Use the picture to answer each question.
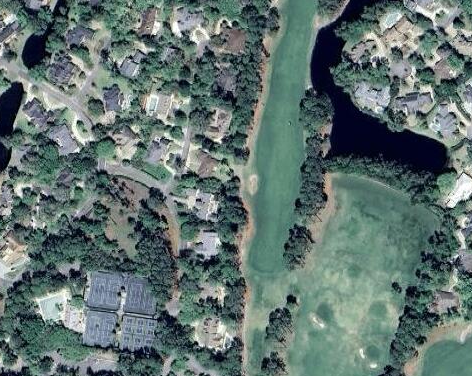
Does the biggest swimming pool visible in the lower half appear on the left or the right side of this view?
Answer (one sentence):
The biggest swimming pool visible in the lower half appears in the left half of the scene.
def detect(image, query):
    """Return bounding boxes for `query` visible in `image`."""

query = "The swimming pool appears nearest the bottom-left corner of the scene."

[37,292,71,323]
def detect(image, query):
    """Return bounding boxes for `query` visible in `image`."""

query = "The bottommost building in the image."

[200,320,226,345]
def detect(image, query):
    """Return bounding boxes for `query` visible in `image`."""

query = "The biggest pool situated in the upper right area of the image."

[382,11,403,29]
